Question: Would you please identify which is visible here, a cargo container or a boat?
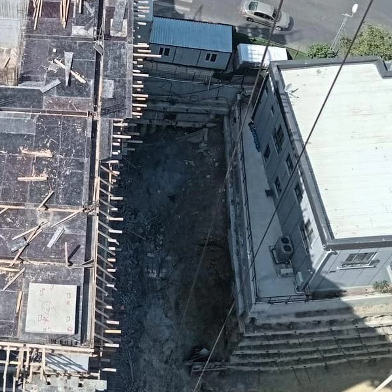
cargo container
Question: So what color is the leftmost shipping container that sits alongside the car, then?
blue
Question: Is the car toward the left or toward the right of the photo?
right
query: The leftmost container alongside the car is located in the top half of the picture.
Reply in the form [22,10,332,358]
[149,17,232,71]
